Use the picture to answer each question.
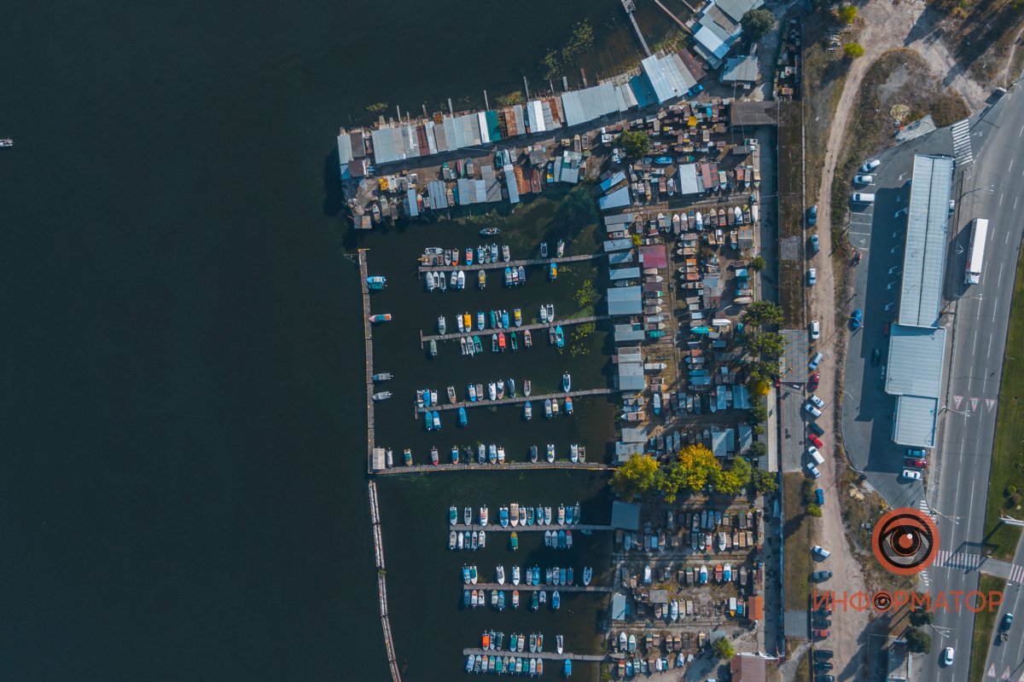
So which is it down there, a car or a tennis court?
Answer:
car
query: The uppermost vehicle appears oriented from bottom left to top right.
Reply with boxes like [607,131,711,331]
[688,83,703,96]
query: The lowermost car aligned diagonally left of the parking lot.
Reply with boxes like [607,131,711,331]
[814,544,830,559]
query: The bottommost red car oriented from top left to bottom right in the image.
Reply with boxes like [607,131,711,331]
[807,434,824,449]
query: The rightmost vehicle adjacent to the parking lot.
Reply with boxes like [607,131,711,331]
[964,219,989,284]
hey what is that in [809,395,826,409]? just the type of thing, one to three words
car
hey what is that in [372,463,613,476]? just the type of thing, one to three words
pier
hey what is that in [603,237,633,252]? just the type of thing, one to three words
shed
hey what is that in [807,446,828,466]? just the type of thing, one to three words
vehicle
